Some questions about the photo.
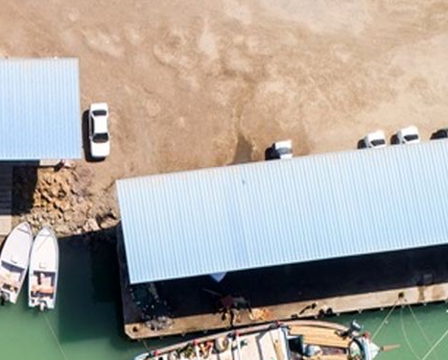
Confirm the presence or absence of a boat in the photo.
Yes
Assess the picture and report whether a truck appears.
No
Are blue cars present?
No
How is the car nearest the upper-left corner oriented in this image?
vertically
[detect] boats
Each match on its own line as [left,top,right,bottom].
[29,226,59,312]
[0,222,33,304]
[129,320,407,360]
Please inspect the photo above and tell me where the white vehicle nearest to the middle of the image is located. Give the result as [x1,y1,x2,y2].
[270,135,295,160]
